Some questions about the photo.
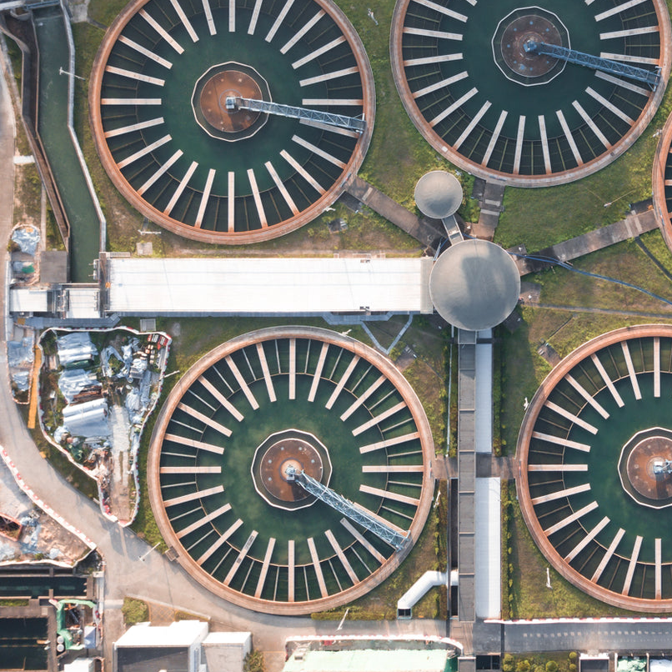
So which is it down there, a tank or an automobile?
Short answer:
tank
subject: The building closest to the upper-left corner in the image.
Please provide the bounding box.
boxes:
[41,251,79,284]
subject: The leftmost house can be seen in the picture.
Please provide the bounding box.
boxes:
[9,288,54,311]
